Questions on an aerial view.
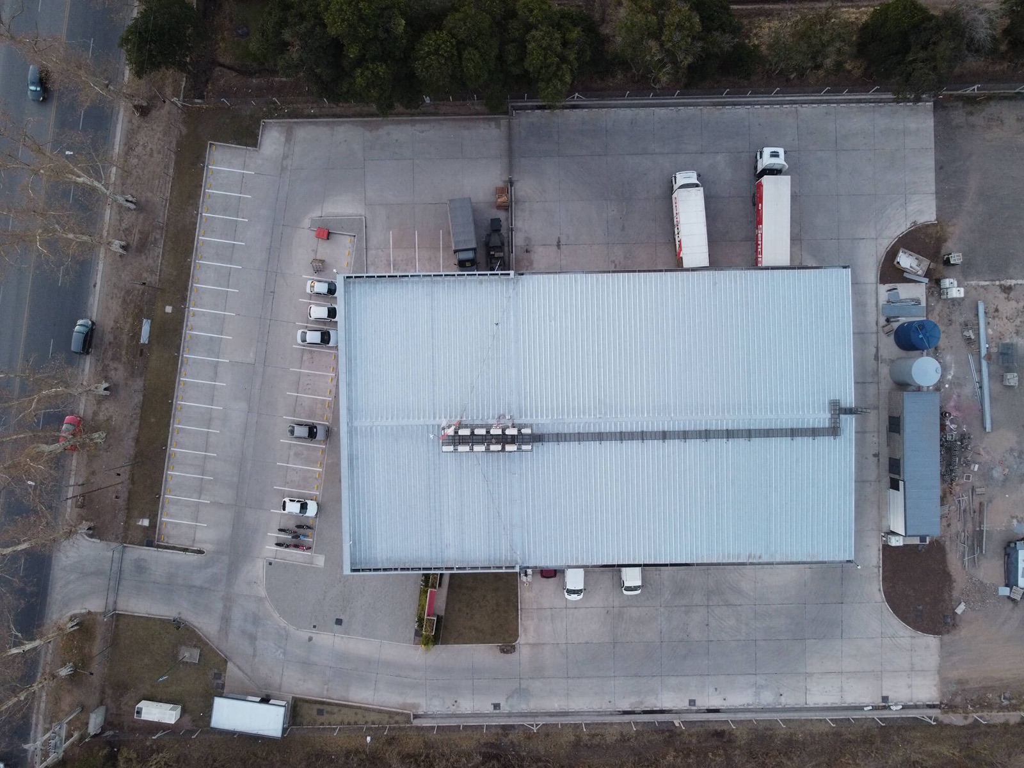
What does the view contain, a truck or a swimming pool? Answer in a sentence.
Visible in the photo is a truck.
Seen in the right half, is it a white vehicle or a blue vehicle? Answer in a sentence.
The feature located in the right half is a white vehicle.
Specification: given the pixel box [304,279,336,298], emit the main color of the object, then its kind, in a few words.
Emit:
white car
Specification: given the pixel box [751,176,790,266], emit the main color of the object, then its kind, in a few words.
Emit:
white trailer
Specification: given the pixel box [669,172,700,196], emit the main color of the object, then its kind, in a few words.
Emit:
white truck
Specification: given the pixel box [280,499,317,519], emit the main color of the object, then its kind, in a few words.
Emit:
white car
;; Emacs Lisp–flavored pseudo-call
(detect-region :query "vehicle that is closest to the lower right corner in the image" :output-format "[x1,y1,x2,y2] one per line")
[623,569,643,594]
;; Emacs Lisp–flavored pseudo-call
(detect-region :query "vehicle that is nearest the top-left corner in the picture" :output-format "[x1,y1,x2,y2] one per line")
[22,61,46,101]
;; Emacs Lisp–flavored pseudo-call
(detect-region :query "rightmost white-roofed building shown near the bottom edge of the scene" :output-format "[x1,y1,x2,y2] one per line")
[210,679,291,737]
